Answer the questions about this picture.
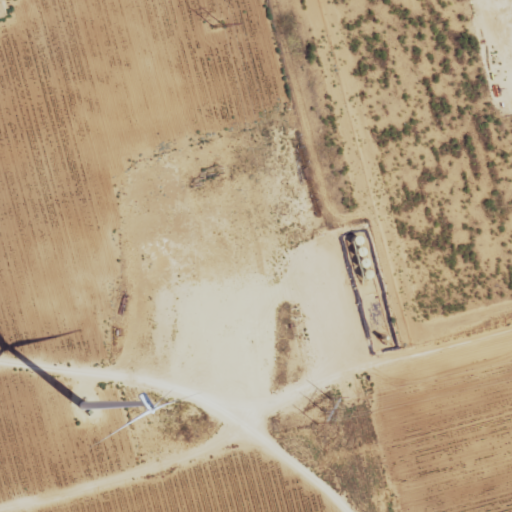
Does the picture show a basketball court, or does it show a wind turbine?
wind turbine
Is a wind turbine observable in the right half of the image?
No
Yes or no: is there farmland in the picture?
Yes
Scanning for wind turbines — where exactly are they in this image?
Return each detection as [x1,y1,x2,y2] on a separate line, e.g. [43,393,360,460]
[78,388,198,442]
